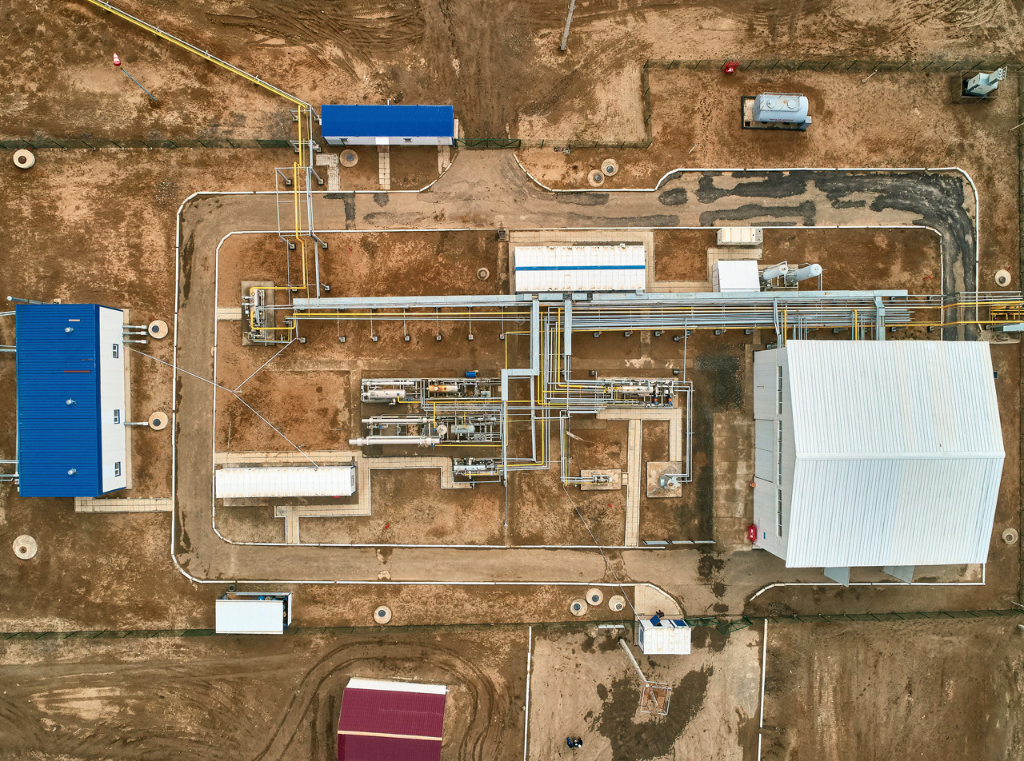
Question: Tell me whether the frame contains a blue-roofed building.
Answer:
Yes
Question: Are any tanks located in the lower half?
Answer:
No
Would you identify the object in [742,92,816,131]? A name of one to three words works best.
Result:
storage tank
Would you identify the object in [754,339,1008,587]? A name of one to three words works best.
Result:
building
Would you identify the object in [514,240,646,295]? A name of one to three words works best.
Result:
building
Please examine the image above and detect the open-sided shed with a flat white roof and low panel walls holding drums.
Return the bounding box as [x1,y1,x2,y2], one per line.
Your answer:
[215,593,292,635]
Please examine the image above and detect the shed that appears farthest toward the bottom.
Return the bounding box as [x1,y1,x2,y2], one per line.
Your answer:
[336,679,449,761]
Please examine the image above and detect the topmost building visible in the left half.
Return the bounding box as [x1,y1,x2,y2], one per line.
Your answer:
[319,103,454,145]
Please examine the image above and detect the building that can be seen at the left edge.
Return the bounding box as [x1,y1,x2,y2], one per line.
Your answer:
[0,303,151,497]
